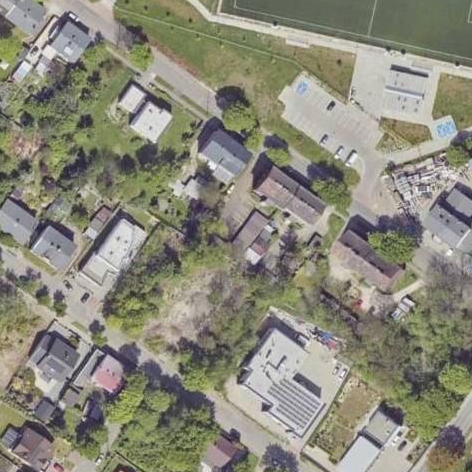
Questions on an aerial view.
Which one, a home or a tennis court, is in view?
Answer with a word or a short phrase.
home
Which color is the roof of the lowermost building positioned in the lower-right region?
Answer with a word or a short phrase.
white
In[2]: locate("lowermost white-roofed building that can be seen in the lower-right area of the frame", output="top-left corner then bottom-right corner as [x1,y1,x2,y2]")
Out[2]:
[334,430,371,471]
